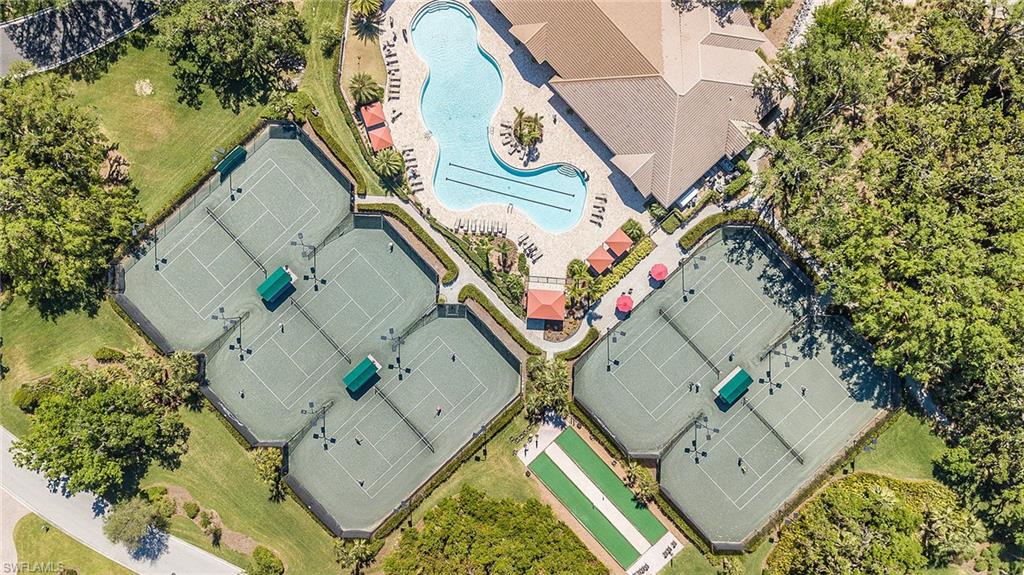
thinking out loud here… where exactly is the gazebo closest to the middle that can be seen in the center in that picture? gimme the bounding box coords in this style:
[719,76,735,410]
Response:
[526,289,565,320]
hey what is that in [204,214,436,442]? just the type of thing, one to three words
tennis court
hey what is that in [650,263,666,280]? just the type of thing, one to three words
umbrella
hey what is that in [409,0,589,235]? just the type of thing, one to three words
swimming pool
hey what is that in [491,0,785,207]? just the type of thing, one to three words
building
